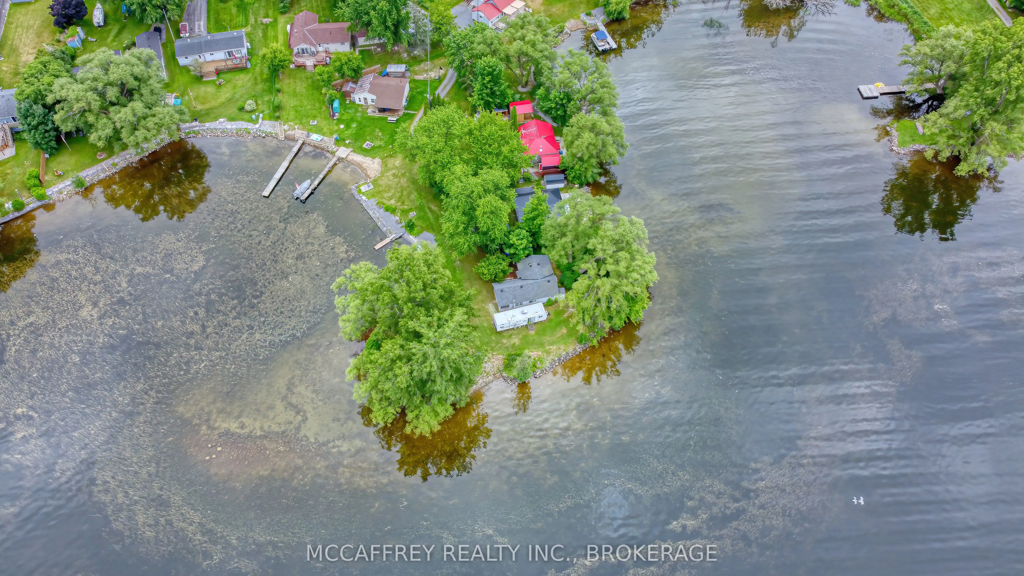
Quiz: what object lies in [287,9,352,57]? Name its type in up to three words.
house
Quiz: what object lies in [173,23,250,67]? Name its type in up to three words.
house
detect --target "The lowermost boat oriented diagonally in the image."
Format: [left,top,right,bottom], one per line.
[289,177,309,199]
